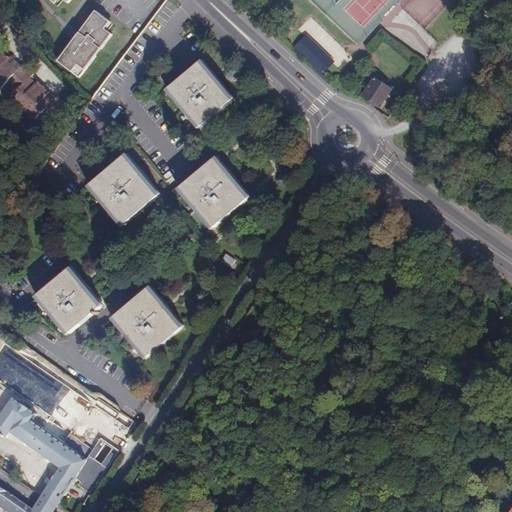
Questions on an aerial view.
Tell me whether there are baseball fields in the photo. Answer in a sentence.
No, no baseball field is visible in the view.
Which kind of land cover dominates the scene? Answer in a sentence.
For the most part, this view shows trees.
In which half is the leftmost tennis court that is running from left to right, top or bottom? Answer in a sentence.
Seen from above, the leftmost tennis court that is running from left to right lies in the top half of the view.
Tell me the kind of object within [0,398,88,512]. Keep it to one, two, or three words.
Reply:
building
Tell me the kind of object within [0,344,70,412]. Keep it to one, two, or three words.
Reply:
building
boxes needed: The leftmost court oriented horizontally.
[309,0,404,42]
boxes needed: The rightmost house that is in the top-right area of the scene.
[360,77,392,108]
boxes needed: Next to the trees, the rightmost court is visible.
[402,0,448,27]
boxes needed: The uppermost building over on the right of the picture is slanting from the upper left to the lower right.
[294,32,334,73]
